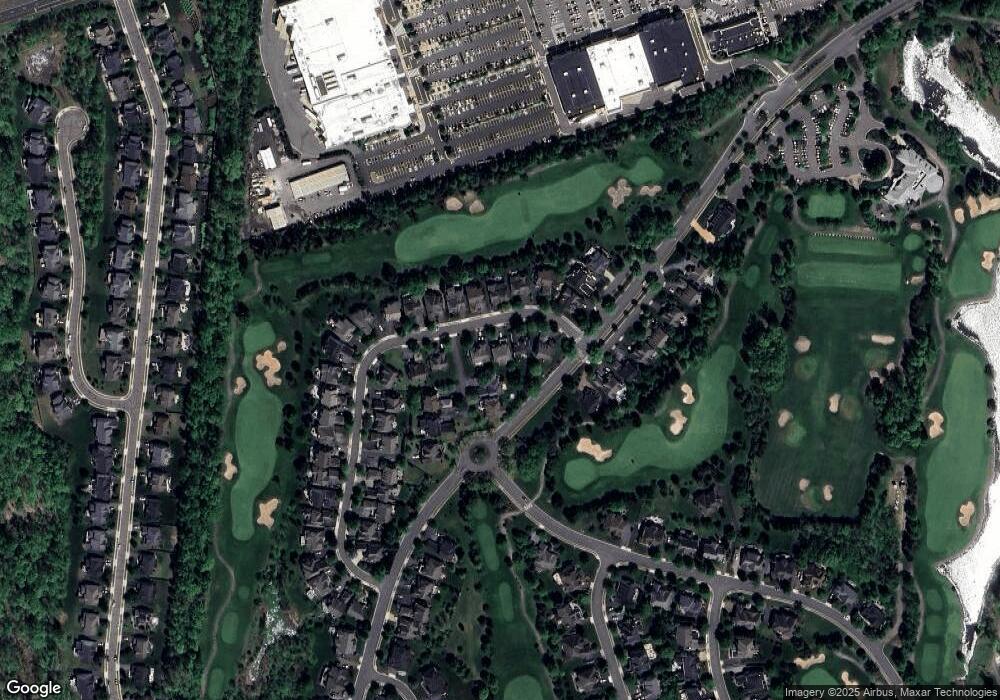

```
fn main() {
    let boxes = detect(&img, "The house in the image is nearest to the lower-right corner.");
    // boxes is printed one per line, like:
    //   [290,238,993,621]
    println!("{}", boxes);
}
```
[856,598,885,637]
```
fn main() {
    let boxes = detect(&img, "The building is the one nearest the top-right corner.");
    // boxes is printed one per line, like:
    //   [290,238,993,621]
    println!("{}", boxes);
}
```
[880,140,944,210]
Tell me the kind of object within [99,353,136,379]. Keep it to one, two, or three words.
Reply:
house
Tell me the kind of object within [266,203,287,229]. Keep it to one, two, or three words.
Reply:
building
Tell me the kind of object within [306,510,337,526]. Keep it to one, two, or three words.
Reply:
house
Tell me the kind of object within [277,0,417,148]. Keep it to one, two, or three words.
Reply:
building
